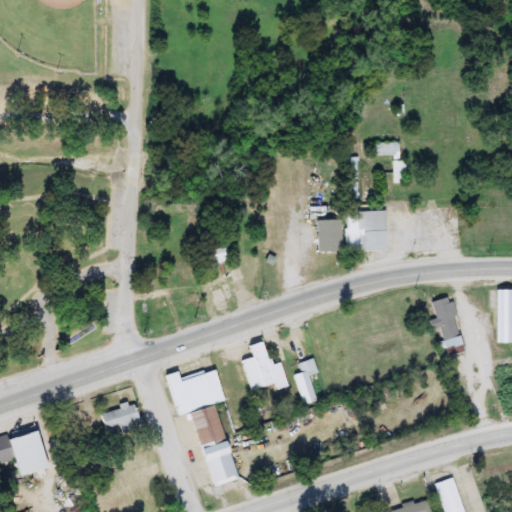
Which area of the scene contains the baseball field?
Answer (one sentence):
The baseball field is in the top left part of the image.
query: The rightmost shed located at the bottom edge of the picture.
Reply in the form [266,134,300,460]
[436,478,466,512]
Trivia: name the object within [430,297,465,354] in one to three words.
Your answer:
house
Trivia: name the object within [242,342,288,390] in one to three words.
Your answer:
building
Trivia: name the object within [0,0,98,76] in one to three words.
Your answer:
baseball field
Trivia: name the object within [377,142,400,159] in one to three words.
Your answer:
shed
